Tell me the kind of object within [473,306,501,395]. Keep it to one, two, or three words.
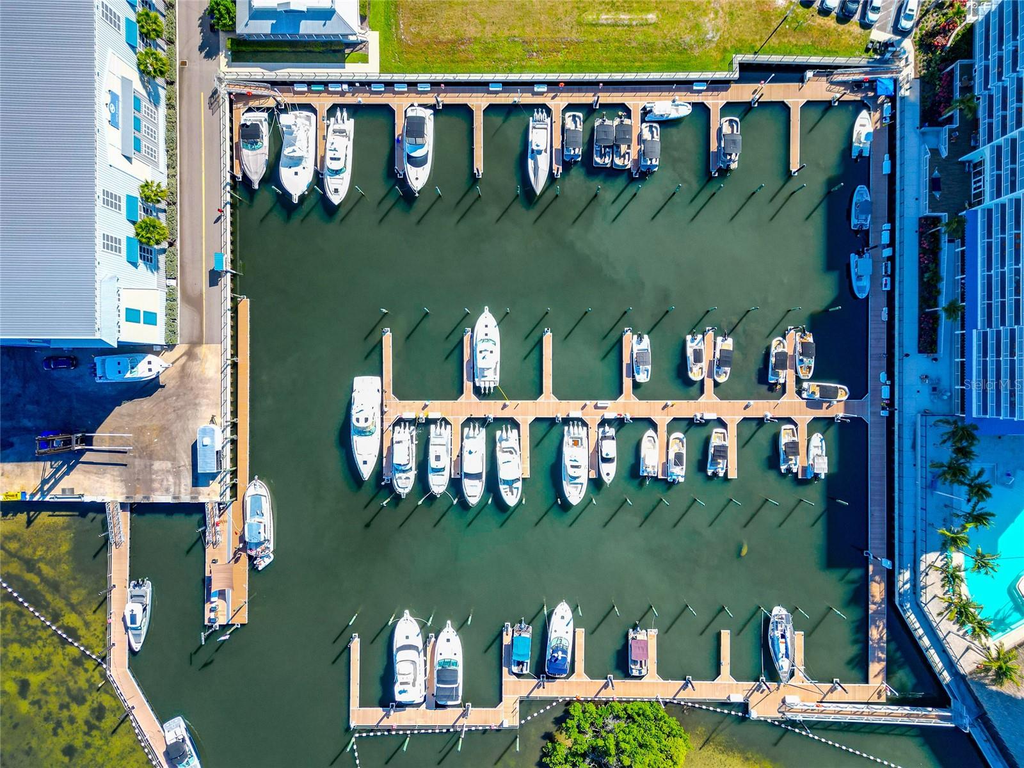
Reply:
boat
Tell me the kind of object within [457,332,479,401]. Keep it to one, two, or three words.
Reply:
pier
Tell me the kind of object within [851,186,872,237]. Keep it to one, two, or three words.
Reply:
boat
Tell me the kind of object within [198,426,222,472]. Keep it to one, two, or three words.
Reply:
shed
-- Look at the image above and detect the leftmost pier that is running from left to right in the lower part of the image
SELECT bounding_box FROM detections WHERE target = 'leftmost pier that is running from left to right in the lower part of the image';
[351,699,519,728]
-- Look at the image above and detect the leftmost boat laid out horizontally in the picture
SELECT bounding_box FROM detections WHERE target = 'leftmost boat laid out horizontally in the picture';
[89,354,174,382]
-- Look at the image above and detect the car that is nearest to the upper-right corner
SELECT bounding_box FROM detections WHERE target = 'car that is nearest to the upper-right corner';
[897,0,919,32]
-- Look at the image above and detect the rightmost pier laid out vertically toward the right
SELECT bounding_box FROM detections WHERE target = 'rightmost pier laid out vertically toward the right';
[867,78,888,680]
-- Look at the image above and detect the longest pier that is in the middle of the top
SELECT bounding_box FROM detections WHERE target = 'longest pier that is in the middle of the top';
[235,81,869,107]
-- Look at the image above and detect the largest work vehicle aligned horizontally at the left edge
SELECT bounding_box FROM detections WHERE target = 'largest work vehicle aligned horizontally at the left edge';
[33,430,133,457]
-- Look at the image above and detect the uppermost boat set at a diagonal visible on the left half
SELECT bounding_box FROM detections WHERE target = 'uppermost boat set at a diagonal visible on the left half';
[254,555,275,571]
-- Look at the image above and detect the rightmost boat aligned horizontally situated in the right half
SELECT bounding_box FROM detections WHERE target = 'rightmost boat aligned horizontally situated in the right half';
[796,382,850,402]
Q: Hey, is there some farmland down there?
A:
No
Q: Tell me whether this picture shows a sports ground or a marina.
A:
marina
